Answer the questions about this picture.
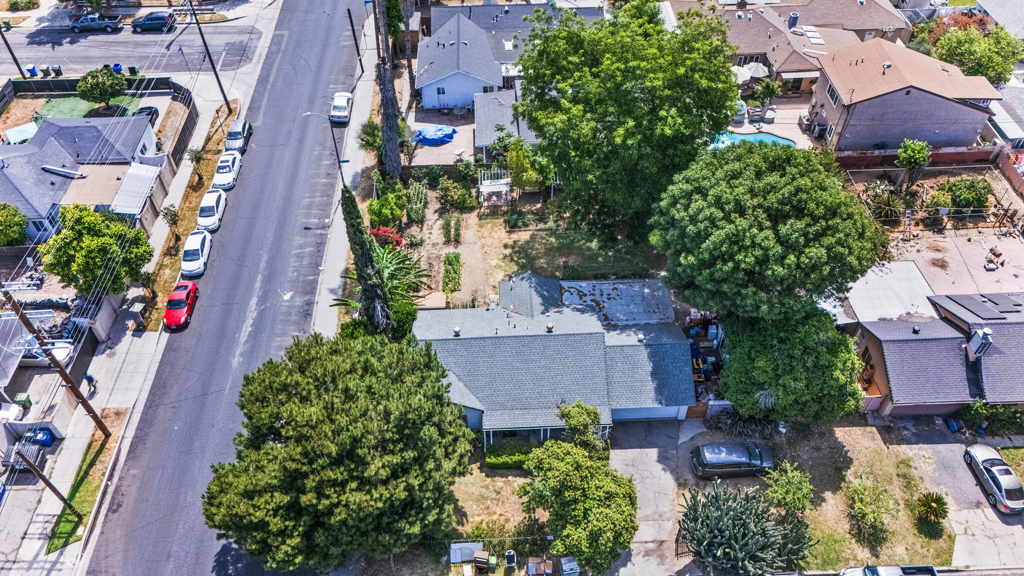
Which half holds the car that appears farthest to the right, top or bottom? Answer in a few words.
bottom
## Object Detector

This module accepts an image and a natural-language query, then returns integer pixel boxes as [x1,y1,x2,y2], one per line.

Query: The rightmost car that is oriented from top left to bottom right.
[957,447,1024,518]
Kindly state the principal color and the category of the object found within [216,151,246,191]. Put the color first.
white car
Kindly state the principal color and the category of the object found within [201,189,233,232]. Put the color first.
white car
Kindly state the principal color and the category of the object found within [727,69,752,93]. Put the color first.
white umbrella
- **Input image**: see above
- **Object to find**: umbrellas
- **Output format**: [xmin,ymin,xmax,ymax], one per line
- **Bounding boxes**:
[727,69,752,93]
[745,62,771,83]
